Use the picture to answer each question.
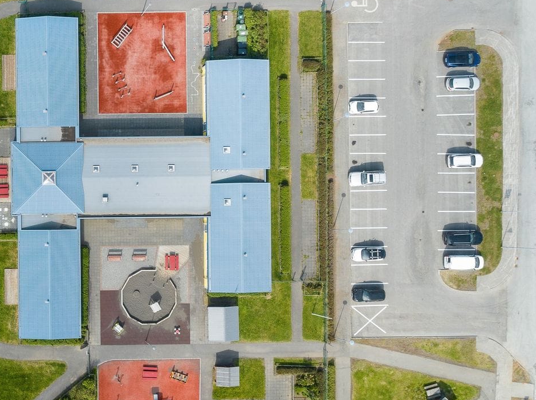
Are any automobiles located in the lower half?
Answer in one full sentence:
Yes, in the lower half there is an automobile.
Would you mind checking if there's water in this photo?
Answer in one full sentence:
No, the picture contains no water.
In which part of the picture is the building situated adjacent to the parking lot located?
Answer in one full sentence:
The building situated adjacent to the parking lot is in the left part of the image.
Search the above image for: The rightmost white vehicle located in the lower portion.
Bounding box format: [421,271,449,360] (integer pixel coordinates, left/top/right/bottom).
[442,254,484,272]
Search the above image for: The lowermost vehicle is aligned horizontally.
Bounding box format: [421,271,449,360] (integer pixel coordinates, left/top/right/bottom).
[351,286,386,303]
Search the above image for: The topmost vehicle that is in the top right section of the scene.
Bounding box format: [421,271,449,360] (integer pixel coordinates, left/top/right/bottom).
[442,49,480,67]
